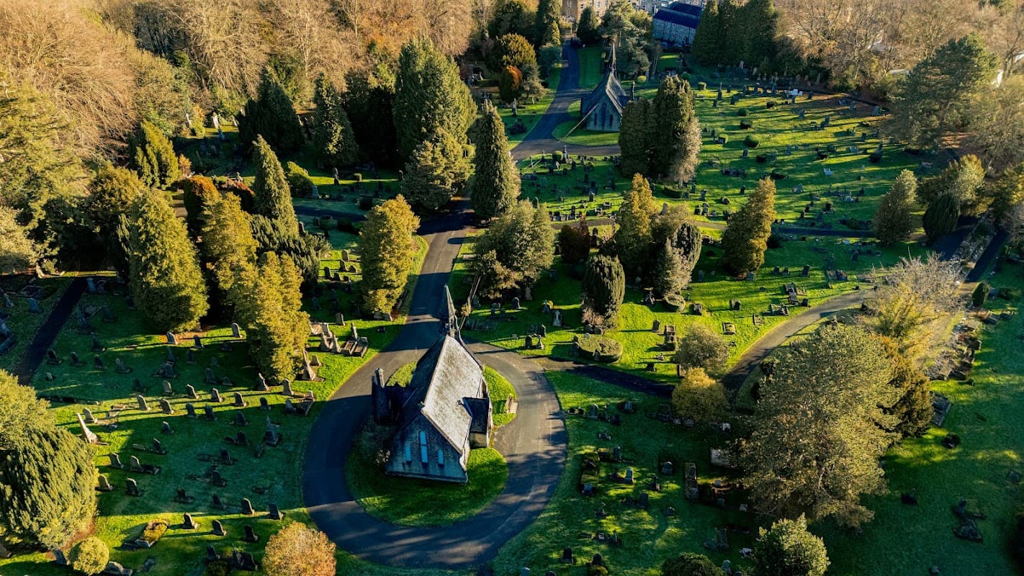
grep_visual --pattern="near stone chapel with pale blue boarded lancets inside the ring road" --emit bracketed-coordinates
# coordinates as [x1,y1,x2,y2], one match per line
[365,277,499,485]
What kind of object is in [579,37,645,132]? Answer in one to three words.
building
